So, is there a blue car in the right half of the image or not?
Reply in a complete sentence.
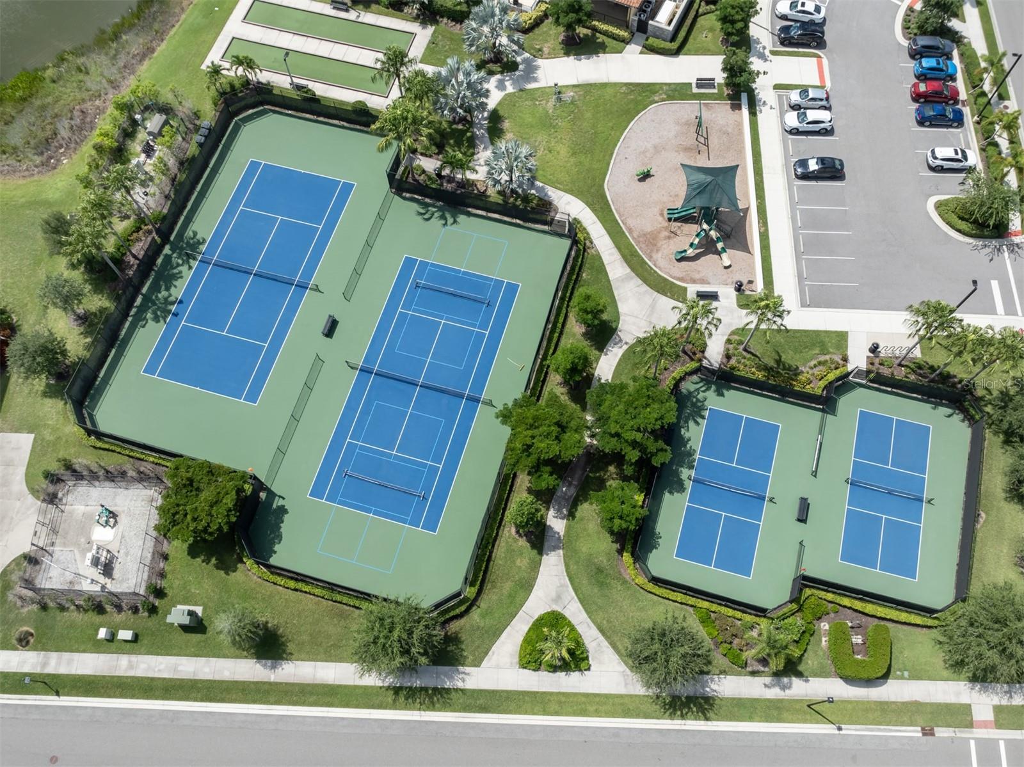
Yes, there is a blue car in the right half of the image.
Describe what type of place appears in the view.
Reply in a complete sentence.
This image shows a sports ground.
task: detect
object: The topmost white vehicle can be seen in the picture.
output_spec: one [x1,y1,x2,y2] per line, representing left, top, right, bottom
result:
[776,0,824,23]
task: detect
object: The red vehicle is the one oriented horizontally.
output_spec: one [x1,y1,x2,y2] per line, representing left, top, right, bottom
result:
[912,80,963,104]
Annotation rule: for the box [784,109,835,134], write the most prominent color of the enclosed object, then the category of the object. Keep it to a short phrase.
white car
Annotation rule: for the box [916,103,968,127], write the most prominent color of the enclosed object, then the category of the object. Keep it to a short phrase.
blue car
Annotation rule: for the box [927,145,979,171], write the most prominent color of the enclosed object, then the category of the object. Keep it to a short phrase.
white car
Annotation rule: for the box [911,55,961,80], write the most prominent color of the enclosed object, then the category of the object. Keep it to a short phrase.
blue car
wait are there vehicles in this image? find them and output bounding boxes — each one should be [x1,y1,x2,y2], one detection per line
[911,55,961,80]
[793,154,847,179]
[784,109,835,134]
[927,145,979,171]
[912,80,963,104]
[776,0,824,23]
[778,21,826,47]
[916,103,968,127]
[907,33,956,58]
[788,86,834,110]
